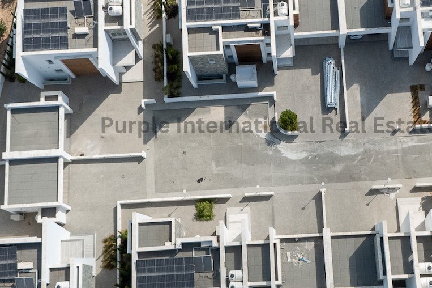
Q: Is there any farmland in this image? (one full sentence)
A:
No, there is no farmland in the image.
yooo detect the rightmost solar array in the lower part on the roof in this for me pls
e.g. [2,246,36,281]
[140,256,194,288]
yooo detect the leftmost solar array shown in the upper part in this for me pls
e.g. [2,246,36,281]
[23,4,69,52]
